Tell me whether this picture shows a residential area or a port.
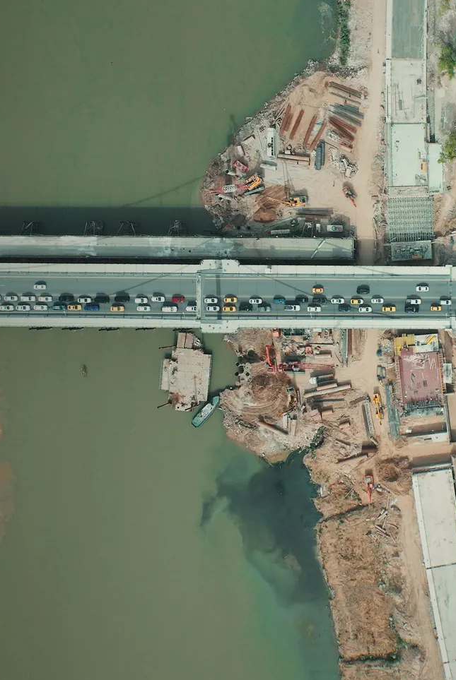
port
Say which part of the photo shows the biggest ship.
center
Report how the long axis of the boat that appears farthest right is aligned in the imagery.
on a diagonal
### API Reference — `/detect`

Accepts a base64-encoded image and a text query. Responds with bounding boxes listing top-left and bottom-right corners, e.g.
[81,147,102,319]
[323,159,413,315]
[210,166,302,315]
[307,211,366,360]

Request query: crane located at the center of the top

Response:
[206,173,265,194]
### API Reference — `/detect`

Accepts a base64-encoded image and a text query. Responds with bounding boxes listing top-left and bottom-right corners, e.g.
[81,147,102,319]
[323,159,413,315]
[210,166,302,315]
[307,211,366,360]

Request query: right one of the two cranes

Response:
[273,360,337,374]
